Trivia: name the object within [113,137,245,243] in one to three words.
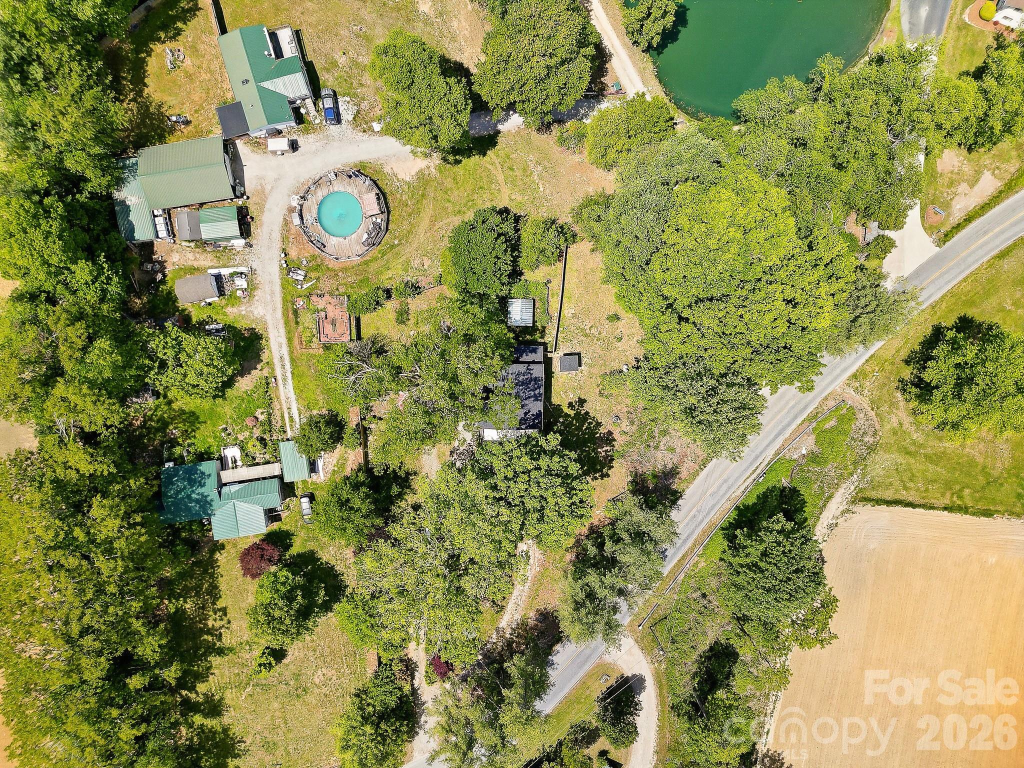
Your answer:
barn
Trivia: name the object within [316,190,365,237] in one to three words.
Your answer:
swimming pool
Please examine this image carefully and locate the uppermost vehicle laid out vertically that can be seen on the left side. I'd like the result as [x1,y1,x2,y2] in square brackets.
[321,87,337,123]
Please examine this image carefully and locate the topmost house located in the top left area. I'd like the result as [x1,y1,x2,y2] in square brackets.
[216,22,318,143]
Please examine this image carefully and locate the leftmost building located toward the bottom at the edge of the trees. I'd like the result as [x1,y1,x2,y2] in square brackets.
[162,460,288,540]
